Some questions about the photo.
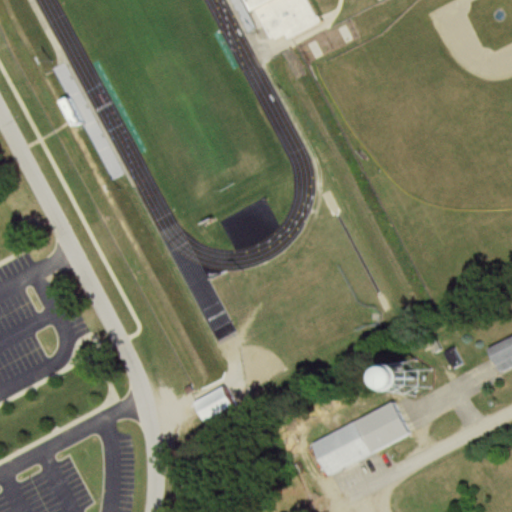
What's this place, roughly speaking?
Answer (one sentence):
The area seen from above is a sports ground.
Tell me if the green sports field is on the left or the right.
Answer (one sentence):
The green sports field appears in the left half of the scene.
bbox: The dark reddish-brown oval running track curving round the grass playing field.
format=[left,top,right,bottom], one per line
[34,0,316,338]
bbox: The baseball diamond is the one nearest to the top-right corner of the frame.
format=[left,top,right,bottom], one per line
[316,0,512,210]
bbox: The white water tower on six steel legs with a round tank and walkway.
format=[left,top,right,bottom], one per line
[362,358,433,400]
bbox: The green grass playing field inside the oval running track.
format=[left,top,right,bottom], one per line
[58,0,294,250]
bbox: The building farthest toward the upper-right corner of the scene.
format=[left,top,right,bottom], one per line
[230,0,324,40]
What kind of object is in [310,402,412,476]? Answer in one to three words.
shed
